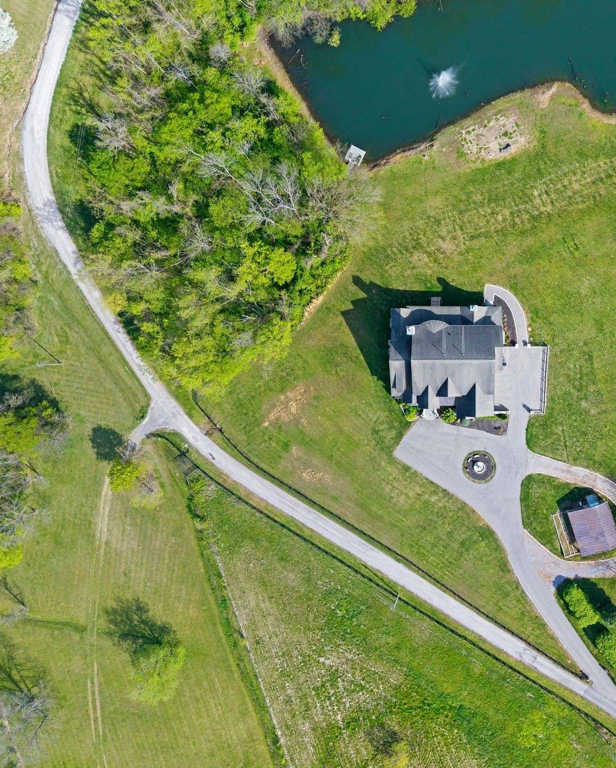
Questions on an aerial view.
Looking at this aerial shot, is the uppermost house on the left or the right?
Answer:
right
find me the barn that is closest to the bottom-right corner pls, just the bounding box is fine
[568,501,616,557]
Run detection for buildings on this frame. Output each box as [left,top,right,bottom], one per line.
[568,501,616,557]
[387,305,504,419]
